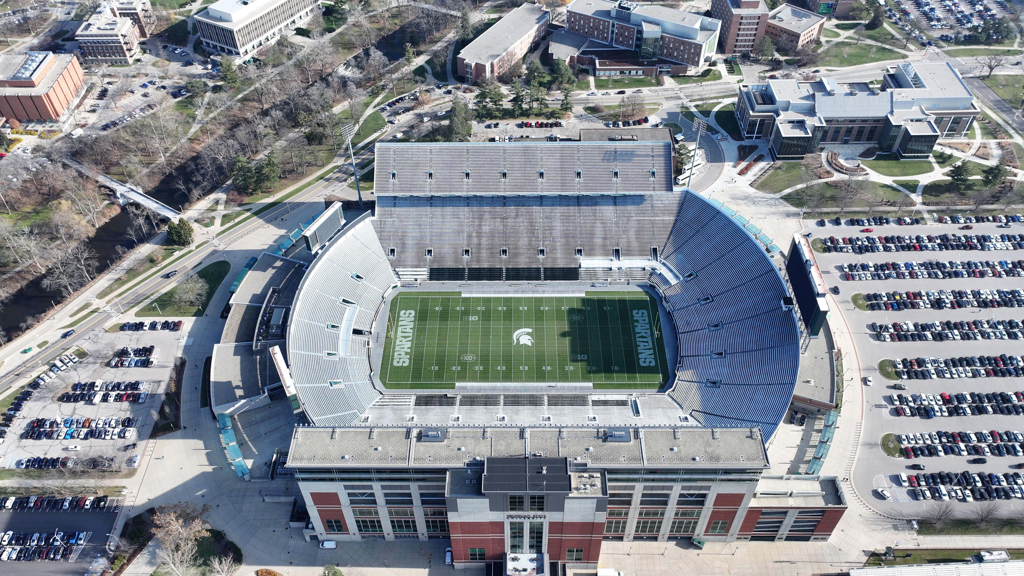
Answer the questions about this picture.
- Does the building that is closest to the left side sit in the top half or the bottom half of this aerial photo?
top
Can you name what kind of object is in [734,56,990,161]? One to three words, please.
building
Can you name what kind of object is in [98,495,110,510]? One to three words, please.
vehicle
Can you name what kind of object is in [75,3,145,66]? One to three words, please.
building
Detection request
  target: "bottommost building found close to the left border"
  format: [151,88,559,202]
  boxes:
[0,51,85,124]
